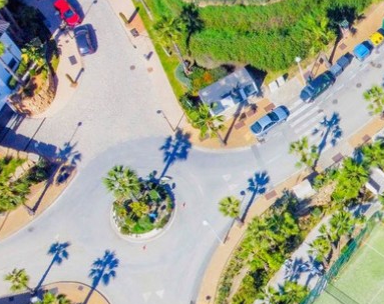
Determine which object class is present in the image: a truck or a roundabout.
roundabout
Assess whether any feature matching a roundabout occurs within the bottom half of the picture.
Yes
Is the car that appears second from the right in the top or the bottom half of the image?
top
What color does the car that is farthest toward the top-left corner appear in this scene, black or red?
red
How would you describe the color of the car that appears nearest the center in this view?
blue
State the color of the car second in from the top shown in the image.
blue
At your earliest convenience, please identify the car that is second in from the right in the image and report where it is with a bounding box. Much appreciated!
[297,67,334,100]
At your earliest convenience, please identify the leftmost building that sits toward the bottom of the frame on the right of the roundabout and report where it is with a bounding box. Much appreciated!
[288,175,314,200]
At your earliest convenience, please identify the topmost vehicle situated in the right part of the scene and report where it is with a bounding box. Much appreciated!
[326,50,352,76]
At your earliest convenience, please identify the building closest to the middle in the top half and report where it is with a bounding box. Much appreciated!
[199,67,265,123]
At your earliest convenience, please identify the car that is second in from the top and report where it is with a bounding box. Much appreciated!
[71,21,96,54]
